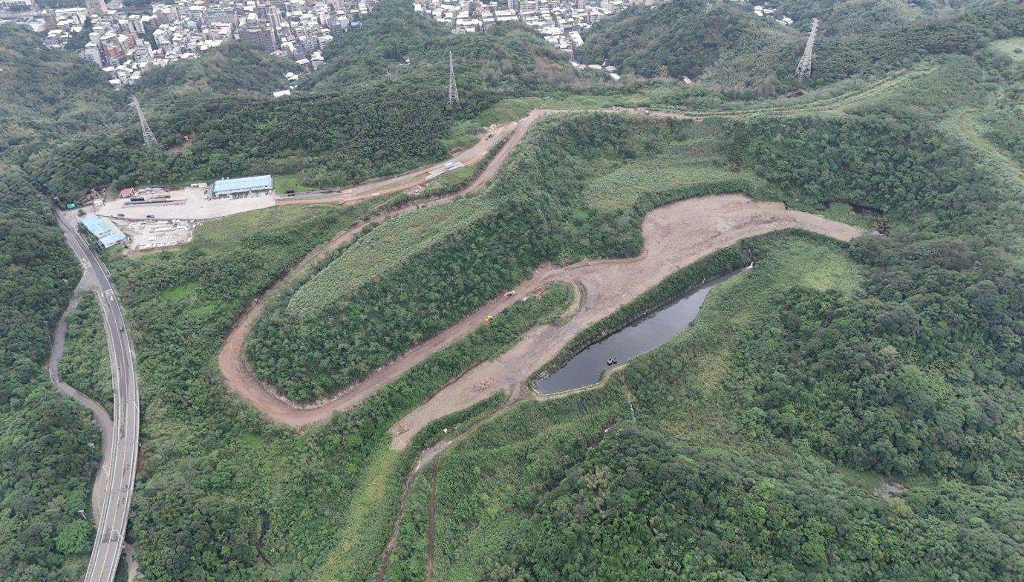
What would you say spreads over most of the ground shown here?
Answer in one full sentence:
The largest share of the image is taken up by trees.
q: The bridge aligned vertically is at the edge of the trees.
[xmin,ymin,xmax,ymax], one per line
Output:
[79,241,144,582]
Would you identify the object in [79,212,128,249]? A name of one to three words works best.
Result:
shed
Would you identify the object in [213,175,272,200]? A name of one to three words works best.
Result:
shed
